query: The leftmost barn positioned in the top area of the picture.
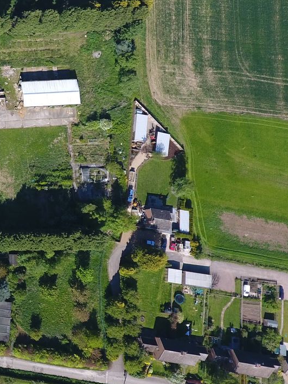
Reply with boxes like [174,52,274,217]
[18,79,82,109]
